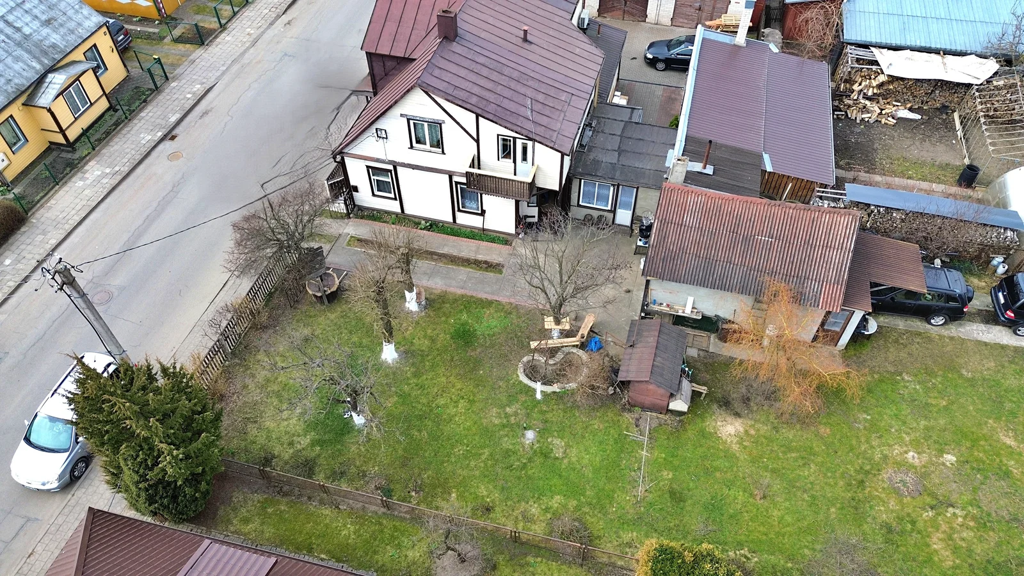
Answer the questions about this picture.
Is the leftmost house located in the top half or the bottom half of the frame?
top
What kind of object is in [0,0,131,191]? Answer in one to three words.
house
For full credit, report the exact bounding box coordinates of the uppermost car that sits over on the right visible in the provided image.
[643,33,691,71]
